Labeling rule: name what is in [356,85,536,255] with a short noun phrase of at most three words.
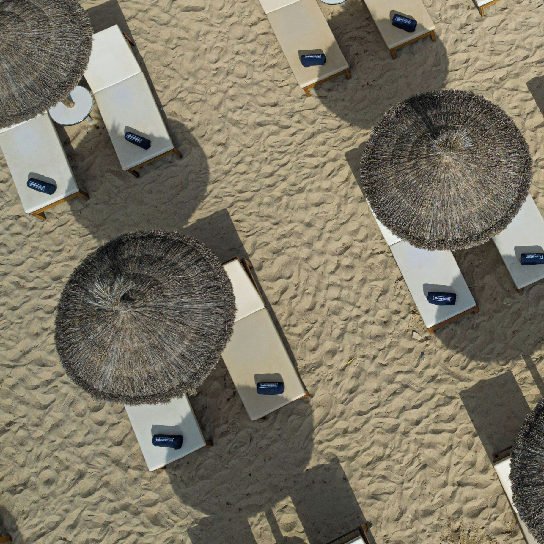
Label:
umbrella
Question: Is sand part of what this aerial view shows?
Yes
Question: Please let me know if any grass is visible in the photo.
No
